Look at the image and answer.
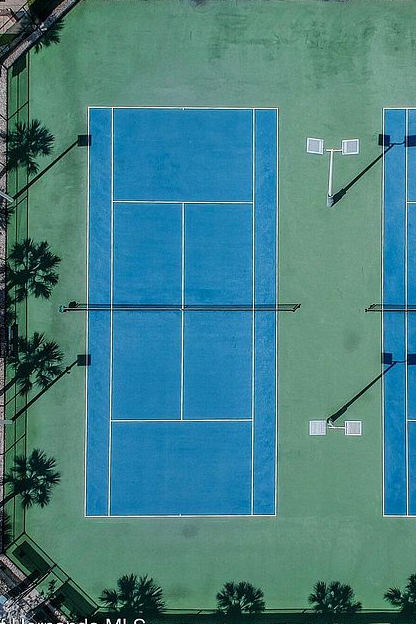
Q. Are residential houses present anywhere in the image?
No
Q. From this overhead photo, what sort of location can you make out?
sports ground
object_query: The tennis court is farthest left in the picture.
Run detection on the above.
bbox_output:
[85,107,276,516]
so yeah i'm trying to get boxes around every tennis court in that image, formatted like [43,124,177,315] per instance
[85,107,276,516]
[384,108,416,515]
